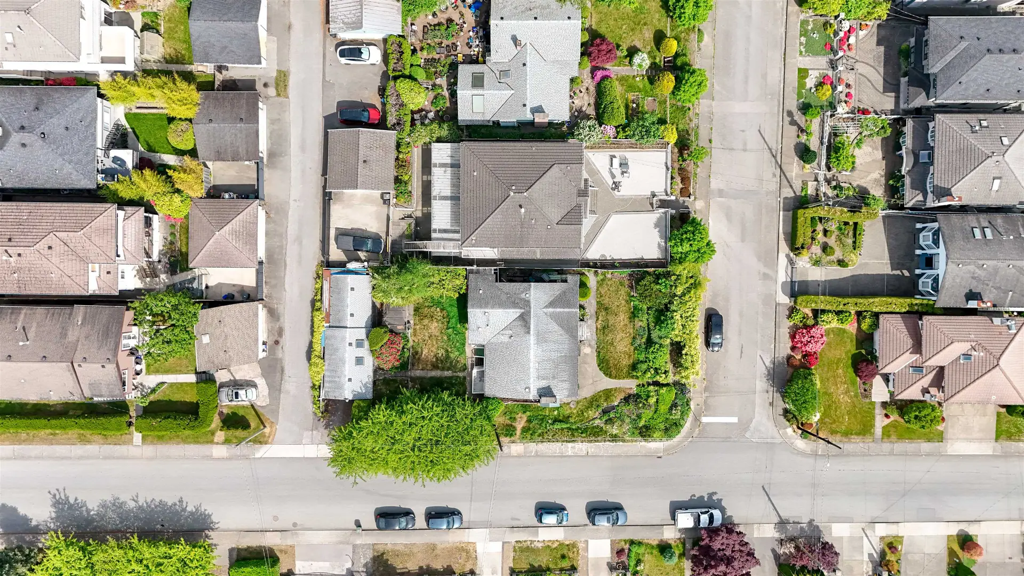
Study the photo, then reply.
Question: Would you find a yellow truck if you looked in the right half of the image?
No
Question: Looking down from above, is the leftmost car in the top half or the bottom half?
bottom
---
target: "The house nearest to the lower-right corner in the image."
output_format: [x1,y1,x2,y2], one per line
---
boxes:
[869,314,1024,404]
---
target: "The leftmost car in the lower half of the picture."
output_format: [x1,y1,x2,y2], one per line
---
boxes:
[219,385,259,405]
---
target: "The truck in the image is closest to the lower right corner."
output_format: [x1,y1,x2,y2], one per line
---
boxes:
[674,506,721,530]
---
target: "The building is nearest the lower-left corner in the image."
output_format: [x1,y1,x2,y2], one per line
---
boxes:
[0,304,137,401]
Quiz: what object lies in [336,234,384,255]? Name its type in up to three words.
truck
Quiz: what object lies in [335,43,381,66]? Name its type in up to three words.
car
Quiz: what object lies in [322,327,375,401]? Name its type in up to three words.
building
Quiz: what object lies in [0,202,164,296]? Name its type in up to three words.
house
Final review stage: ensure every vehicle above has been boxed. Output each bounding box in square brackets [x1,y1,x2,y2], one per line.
[376,510,416,531]
[338,104,382,127]
[425,509,463,531]
[535,505,569,526]
[588,505,627,527]
[336,234,384,255]
[674,506,721,530]
[704,312,725,353]
[335,43,381,66]
[219,385,259,405]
